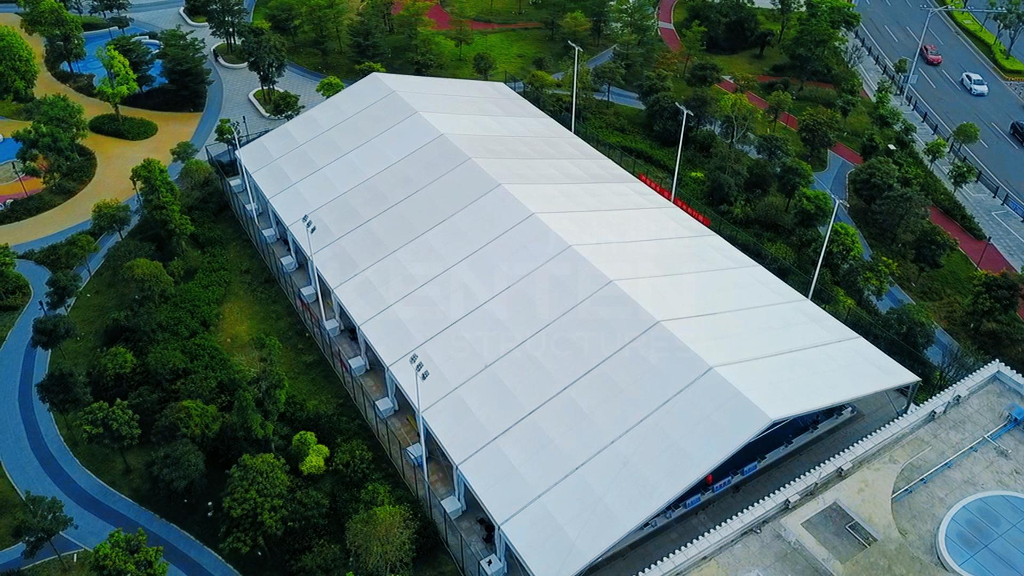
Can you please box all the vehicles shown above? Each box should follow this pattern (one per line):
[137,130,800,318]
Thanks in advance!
[960,74,989,95]
[1004,119,1024,143]
[920,46,944,65]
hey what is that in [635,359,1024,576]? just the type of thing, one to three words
building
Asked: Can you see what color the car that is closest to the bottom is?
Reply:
black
